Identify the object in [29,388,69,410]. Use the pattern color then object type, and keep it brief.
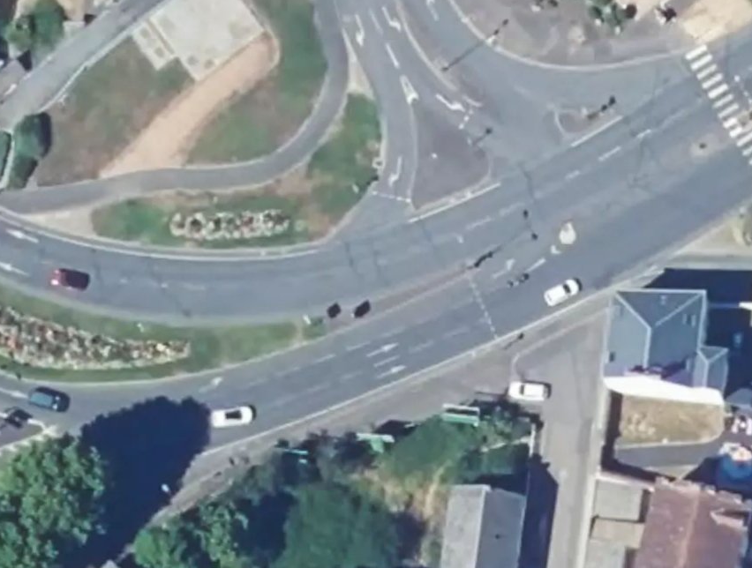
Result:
blue car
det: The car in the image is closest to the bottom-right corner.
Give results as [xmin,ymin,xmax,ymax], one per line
[509,380,548,401]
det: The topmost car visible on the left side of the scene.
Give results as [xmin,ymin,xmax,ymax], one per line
[52,268,89,289]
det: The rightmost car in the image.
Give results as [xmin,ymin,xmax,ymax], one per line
[543,279,582,306]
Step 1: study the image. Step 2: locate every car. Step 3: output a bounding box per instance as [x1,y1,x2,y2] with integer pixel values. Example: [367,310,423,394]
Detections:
[212,405,254,427]
[543,279,582,306]
[509,380,548,401]
[29,388,69,410]
[52,268,89,289]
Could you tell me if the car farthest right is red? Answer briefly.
No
